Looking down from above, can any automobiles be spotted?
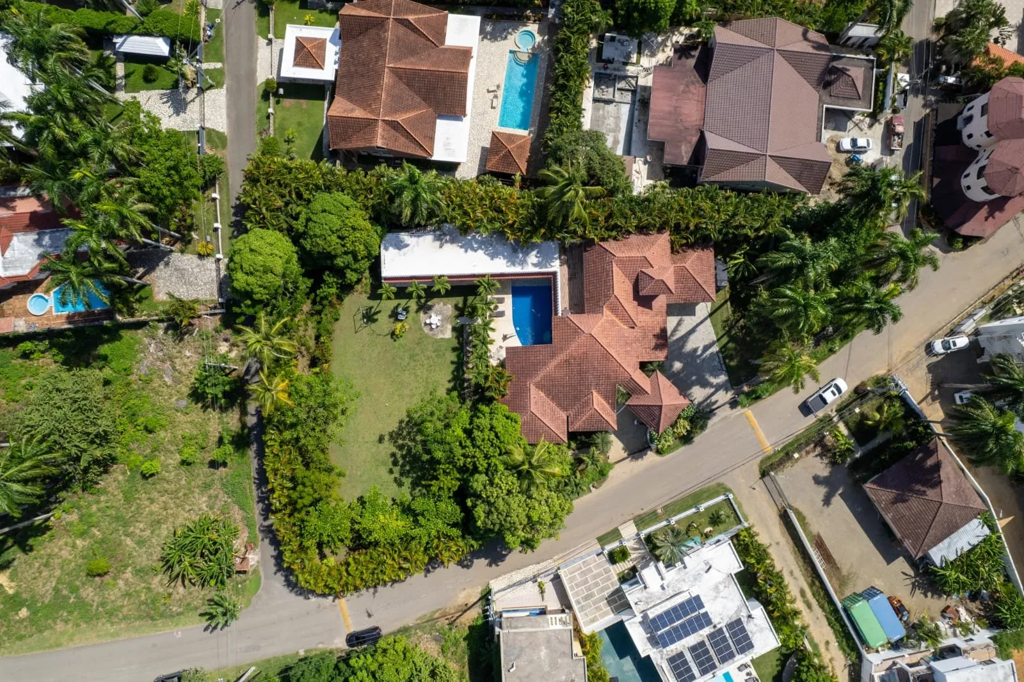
Yes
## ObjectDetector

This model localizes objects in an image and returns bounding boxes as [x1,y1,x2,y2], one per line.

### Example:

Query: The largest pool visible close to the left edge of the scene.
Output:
[49,276,114,315]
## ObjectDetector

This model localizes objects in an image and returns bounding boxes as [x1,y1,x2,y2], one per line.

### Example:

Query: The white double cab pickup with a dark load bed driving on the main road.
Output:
[801,376,847,416]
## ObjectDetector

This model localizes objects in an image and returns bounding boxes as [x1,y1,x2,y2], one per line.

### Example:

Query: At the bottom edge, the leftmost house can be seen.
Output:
[502,605,586,682]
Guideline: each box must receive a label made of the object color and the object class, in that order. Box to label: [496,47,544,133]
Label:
blue swimming pool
